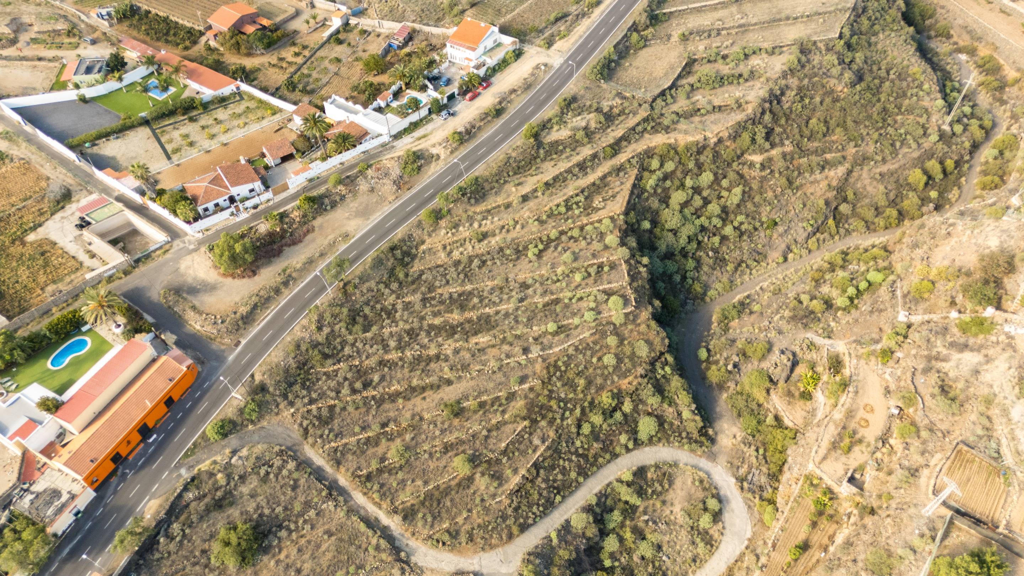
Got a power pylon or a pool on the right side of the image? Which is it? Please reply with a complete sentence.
Looking on the right side of the image, you will find a power pylon.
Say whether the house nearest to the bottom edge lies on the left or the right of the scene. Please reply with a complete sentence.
The house nearest to the bottom edge is on the left side of the image.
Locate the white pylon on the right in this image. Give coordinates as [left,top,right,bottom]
[922,472,977,516]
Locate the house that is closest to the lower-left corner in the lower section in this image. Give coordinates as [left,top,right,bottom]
[13,469,96,535]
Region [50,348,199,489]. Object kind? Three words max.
building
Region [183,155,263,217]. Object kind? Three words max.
house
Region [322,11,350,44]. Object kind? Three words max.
shed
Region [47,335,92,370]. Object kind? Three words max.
swimming pool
